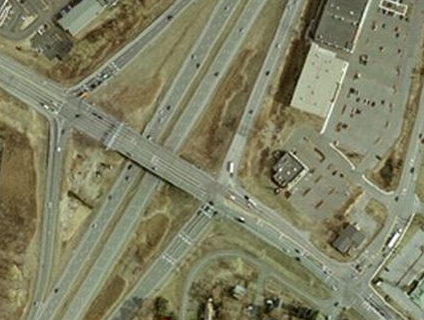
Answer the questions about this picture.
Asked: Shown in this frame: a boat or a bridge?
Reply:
bridge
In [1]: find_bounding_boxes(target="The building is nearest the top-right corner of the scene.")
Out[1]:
[313,0,372,53]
